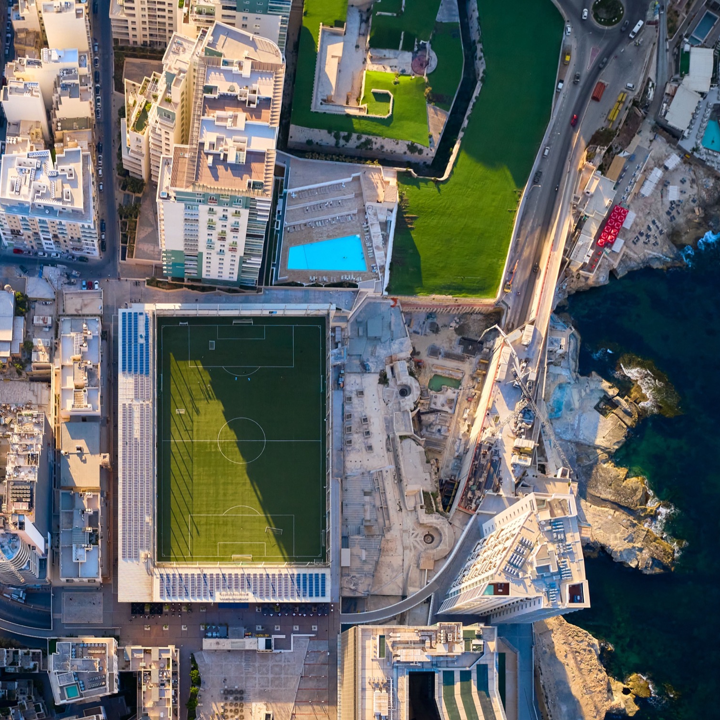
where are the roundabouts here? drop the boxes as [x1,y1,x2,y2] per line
[593,0,624,26]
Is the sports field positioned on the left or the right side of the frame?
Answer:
left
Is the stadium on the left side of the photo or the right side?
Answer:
left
